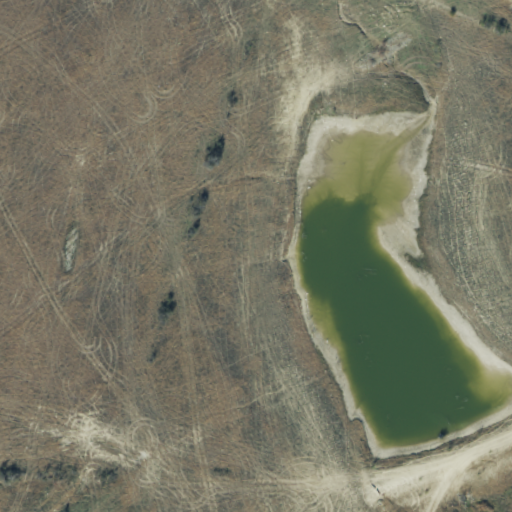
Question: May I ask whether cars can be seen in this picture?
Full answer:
No, the photo shows no car.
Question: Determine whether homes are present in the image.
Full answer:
No, I can't see a single home in this photo.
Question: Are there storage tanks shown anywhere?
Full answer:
No, the photo shows no storage tank.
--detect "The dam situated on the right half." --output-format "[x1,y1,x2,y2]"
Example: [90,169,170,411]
[374,415,512,468]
